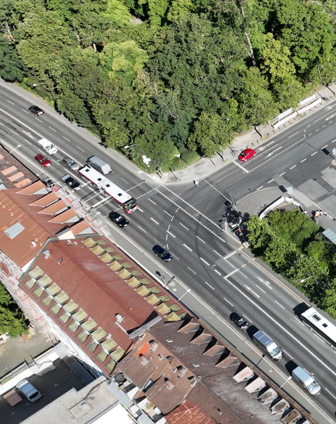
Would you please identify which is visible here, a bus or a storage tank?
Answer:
bus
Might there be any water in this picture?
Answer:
No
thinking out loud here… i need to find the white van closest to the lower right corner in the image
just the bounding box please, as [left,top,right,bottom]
[291,362,321,394]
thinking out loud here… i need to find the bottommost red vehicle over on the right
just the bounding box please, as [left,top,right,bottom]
[238,149,256,163]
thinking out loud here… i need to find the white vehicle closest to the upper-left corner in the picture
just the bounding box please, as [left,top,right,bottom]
[40,136,56,150]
